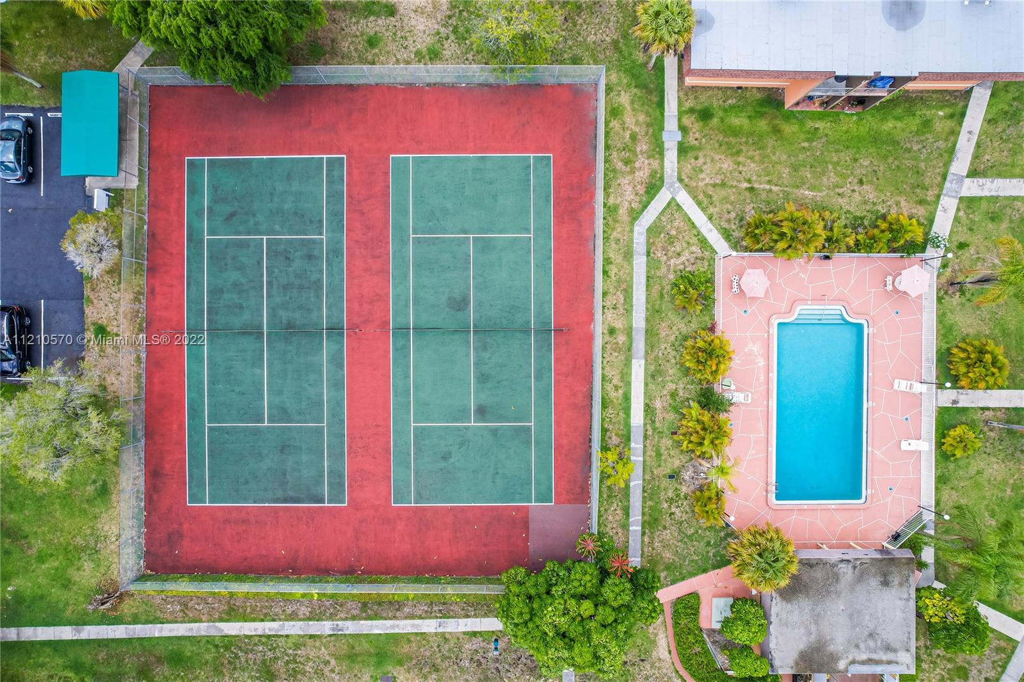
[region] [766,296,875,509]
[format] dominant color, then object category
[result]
blue swimming pool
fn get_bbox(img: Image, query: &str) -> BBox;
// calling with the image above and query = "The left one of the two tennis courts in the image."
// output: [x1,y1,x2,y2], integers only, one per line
[185,155,347,506]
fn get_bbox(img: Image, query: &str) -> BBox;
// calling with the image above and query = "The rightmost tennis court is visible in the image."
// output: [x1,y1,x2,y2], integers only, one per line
[390,154,554,506]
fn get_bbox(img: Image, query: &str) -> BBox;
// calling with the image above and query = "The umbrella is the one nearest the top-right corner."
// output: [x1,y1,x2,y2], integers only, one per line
[892,264,926,297]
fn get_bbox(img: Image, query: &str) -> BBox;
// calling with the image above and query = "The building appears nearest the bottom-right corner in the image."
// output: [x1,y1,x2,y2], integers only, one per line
[760,541,915,674]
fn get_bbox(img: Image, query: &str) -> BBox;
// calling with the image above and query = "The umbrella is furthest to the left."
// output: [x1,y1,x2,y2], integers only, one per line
[737,269,769,297]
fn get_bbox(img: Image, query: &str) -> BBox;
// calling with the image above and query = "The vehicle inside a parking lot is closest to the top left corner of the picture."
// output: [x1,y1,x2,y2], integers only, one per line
[0,115,34,184]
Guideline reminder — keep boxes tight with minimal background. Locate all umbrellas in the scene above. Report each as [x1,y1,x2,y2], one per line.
[737,269,769,297]
[892,264,926,297]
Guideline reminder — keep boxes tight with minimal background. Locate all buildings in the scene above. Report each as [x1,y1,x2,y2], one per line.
[760,541,915,674]
[683,0,1024,109]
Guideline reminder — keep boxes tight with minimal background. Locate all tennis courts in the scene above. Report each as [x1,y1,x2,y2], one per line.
[390,154,554,506]
[185,155,347,506]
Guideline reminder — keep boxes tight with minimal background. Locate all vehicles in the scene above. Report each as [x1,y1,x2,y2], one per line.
[0,304,32,376]
[0,115,34,184]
